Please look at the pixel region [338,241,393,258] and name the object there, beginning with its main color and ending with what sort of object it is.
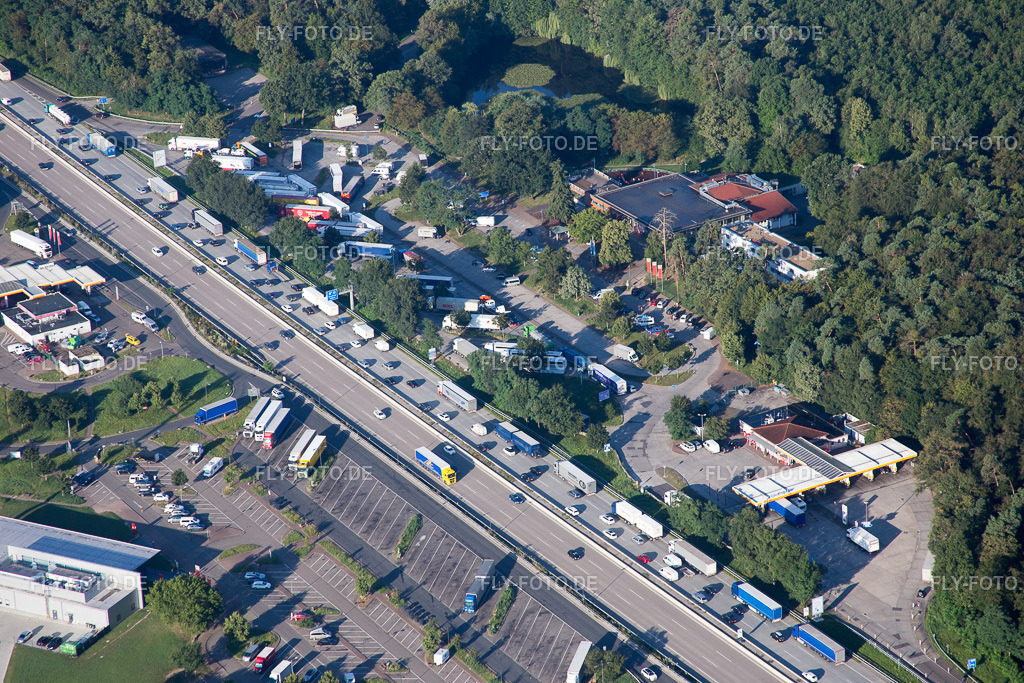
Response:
blue vehicle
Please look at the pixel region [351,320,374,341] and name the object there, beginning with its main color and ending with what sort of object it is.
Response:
white truck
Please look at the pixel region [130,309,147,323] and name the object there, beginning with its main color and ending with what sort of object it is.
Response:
white camper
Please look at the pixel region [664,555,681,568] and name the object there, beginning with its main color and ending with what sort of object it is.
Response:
white vehicle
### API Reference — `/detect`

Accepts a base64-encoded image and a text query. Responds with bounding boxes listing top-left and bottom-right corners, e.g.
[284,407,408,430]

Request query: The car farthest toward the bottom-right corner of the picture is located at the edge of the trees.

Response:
[915,587,927,599]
